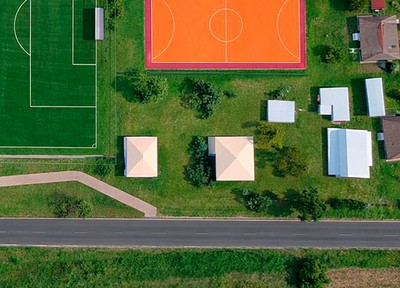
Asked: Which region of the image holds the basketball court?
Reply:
top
